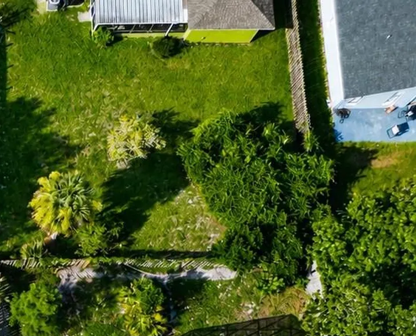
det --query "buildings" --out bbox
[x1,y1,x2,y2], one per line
[85,0,276,47]
[320,0,416,117]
